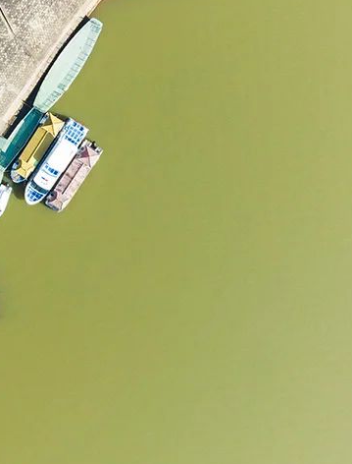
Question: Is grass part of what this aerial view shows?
No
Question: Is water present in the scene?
Yes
